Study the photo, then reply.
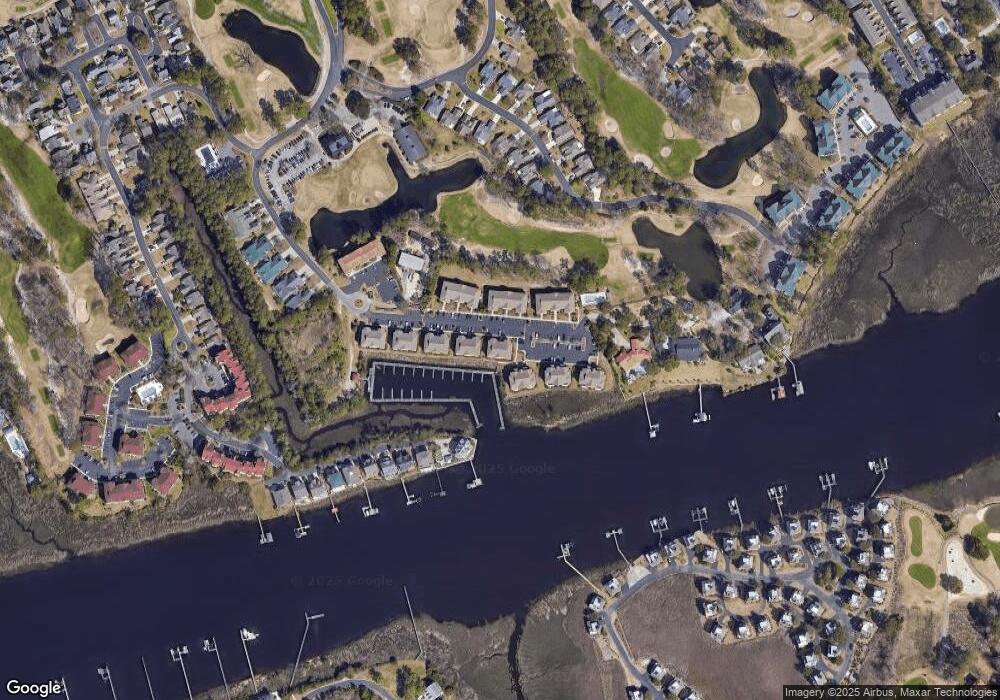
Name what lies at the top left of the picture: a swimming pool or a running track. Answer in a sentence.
Looking at the top left of the picture, you will find a swimming pool.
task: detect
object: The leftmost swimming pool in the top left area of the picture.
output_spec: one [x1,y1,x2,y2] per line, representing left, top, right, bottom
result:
[195,142,220,171]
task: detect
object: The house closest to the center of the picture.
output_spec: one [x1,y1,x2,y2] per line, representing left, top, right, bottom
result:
[485,336,511,358]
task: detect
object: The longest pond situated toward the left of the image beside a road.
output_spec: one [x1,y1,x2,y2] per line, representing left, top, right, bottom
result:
[309,144,482,250]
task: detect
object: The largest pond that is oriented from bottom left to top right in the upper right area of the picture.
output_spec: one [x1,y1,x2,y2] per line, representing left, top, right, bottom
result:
[693,66,786,188]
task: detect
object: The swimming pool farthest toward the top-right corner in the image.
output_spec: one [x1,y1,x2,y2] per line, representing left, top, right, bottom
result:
[934,16,950,36]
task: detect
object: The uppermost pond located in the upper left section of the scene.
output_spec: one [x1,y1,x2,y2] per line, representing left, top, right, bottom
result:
[224,9,320,97]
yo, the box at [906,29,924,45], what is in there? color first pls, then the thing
white swimming pool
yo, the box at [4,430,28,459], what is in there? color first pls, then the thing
white swimming pool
